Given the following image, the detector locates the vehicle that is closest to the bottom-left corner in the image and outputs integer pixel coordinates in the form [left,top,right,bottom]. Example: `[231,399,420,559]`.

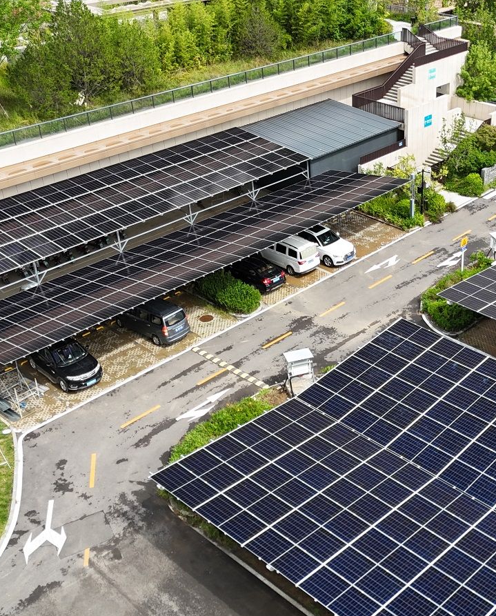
[26,335,106,391]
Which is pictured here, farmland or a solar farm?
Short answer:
solar farm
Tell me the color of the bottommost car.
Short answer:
black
